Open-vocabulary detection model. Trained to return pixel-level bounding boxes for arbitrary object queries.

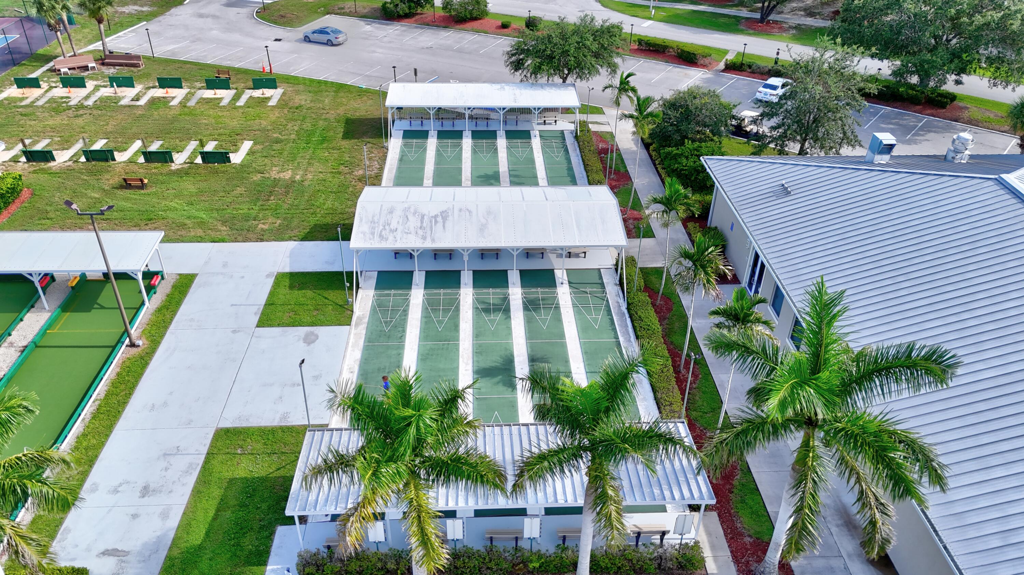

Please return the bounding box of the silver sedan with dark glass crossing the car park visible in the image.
[299,25,348,46]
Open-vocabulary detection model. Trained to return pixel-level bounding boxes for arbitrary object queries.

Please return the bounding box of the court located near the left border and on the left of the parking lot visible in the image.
[0,17,80,75]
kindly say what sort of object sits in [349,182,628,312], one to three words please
building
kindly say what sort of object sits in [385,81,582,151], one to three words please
building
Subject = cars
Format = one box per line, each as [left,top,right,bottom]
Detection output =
[299,25,348,46]
[760,78,800,104]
